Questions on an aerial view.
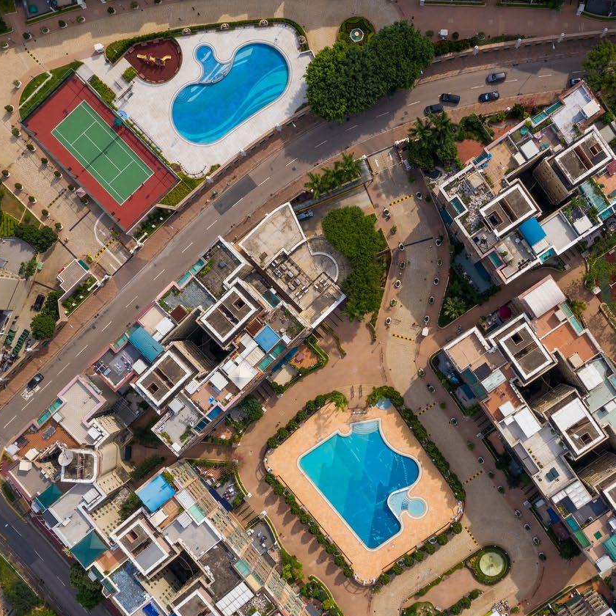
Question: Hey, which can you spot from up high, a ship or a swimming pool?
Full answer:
Visible in the photo is a swimming pool.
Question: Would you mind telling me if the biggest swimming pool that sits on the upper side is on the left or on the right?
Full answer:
You can find the biggest swimming pool that sits on the upper side on the left side of the picture.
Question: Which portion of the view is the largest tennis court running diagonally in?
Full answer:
The largest tennis court running diagonally is in the top left part of the image.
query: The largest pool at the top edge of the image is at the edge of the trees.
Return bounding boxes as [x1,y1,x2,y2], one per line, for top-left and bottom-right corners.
[92,23,313,178]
